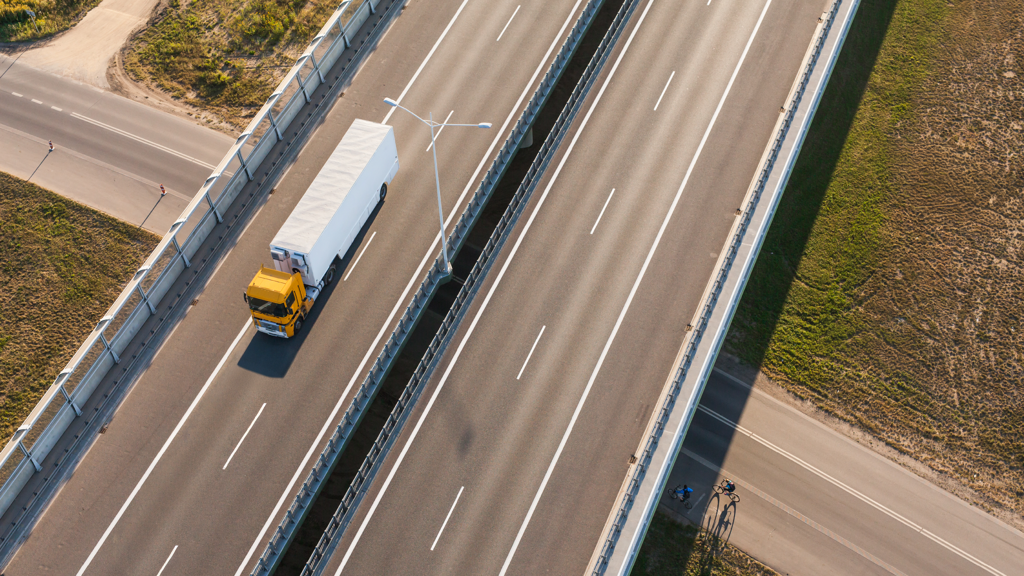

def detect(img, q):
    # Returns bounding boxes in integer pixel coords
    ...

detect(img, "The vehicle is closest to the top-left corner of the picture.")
[244,119,398,337]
